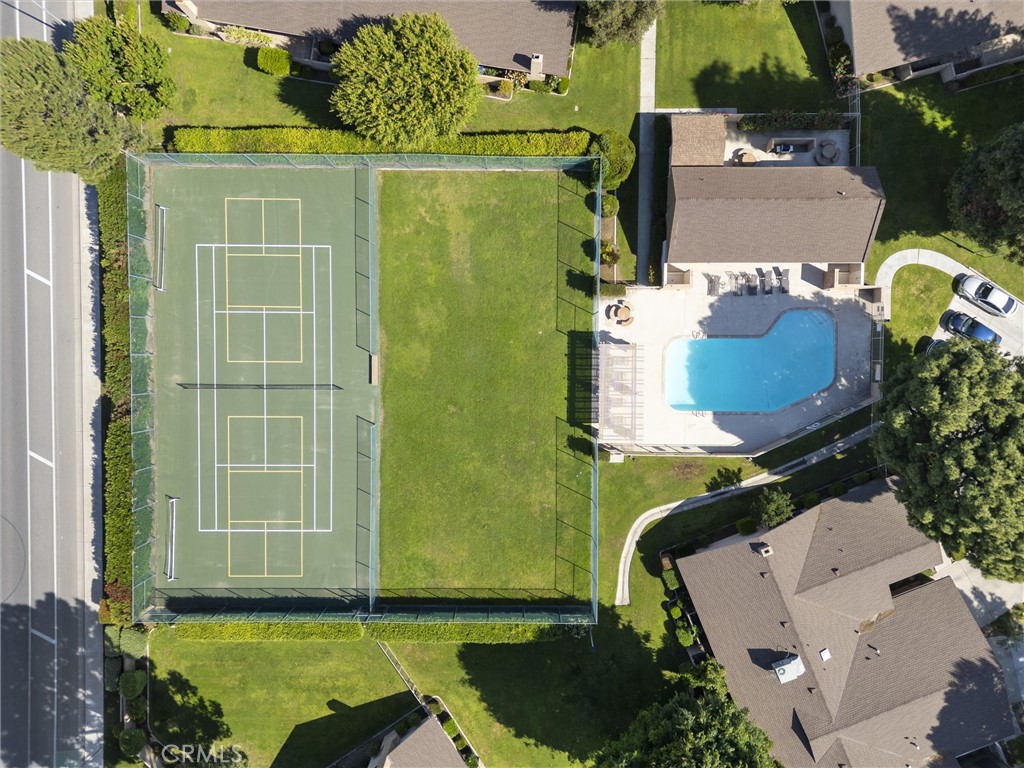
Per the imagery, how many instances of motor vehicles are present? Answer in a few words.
3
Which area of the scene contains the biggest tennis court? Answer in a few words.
left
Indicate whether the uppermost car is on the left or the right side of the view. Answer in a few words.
right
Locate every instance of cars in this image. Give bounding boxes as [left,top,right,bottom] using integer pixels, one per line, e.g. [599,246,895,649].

[913,341,961,374]
[953,276,1015,320]
[940,311,999,351]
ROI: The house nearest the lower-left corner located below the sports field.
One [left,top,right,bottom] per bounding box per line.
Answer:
[330,710,468,768]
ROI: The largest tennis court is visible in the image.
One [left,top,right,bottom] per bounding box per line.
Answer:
[154,168,381,605]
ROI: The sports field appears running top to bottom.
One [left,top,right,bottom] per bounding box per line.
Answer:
[380,170,593,604]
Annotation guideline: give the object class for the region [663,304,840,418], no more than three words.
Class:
swimming pool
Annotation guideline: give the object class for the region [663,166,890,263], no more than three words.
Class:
building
